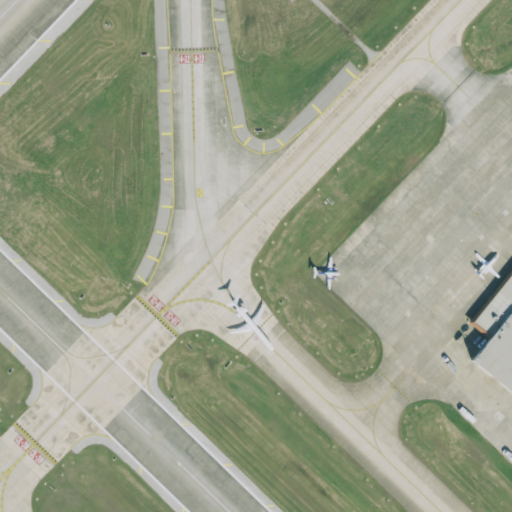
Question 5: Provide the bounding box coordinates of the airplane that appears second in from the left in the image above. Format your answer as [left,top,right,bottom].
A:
[312,257,340,290]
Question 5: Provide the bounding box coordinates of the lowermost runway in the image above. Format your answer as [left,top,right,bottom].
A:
[0,249,275,512]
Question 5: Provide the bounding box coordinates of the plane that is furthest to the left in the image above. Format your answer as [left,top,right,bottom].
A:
[226,294,273,350]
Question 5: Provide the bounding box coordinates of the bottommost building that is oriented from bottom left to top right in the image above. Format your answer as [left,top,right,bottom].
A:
[472,275,512,338]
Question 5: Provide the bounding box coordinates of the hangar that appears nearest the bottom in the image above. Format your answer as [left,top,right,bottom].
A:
[473,314,512,394]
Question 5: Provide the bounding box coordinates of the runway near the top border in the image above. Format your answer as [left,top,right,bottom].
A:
[0,0,92,84]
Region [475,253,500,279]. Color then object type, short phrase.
white airplane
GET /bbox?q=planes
[475,253,500,279]
[226,294,273,350]
[312,257,340,290]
